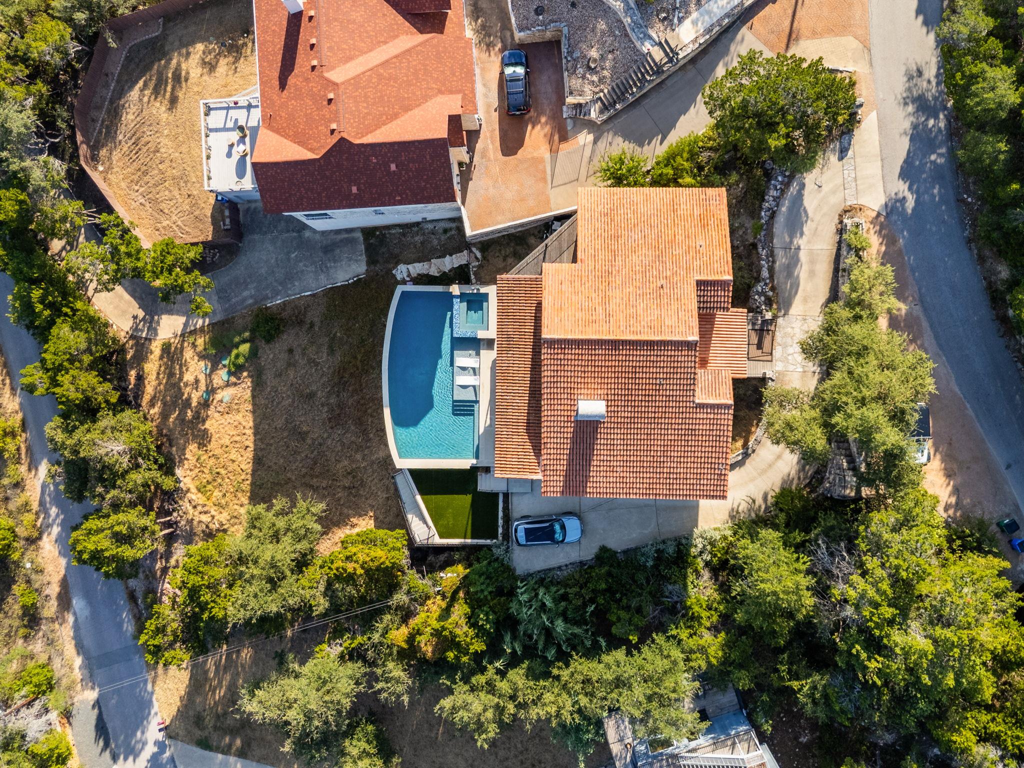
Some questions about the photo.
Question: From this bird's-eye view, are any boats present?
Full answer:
No, the scene contains no boat.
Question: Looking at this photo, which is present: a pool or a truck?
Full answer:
Of the two, only a pool appears.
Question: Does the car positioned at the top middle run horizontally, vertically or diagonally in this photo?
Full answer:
I'd say the car positioned at the top middle is aligned vertically in the picture.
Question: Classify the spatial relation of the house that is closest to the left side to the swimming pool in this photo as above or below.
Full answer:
In the image, the house that is closest to the left side appears above the swimming pool.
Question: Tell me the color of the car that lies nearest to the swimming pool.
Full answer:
The color of the car that lies nearest to the swimming pool is blue.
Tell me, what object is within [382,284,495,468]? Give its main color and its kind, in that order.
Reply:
blue swimming pool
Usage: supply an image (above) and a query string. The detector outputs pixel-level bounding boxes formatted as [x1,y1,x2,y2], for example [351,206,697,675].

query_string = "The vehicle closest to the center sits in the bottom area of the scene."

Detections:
[515,513,583,548]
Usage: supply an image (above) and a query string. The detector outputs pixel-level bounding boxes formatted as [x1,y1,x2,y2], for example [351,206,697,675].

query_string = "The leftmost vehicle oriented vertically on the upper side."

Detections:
[497,49,531,122]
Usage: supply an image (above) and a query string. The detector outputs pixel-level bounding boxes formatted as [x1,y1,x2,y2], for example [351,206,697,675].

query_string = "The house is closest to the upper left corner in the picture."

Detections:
[252,0,479,233]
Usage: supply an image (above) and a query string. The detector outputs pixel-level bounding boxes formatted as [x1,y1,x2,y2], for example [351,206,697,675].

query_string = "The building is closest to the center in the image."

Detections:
[494,186,749,500]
